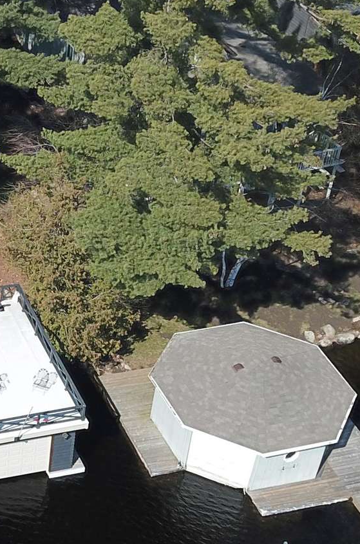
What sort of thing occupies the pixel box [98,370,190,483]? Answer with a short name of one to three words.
pier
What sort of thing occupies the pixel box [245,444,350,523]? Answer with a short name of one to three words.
pier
